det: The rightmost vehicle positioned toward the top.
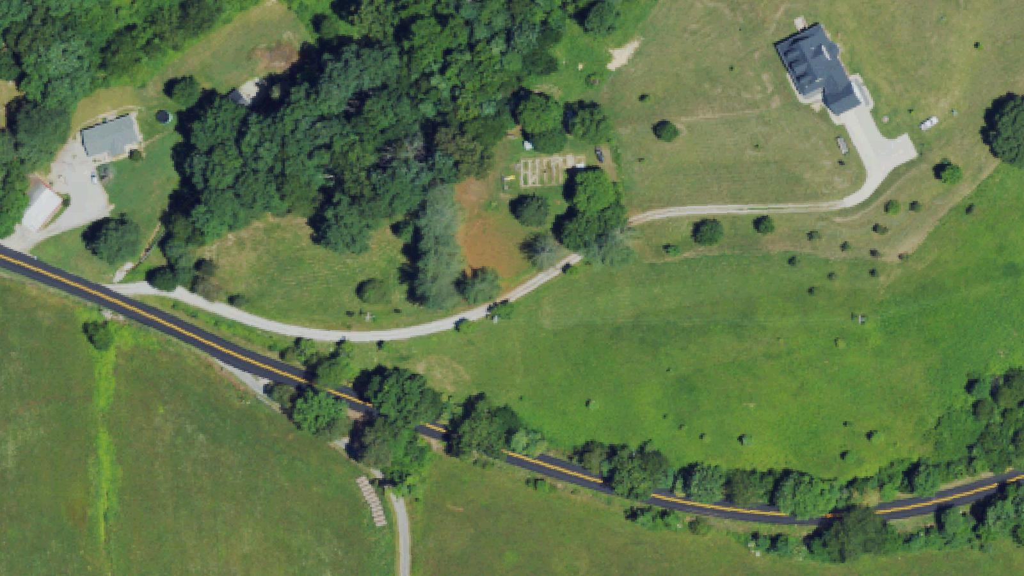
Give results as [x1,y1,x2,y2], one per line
[921,116,939,130]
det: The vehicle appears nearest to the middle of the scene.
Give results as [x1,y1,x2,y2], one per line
[593,146,606,163]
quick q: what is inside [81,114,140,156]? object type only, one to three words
house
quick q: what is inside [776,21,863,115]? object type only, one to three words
house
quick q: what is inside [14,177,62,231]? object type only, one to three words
barn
